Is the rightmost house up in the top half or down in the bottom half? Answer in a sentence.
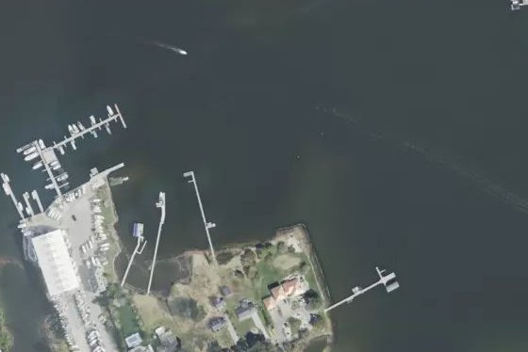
The rightmost house is in the bottom half of the image.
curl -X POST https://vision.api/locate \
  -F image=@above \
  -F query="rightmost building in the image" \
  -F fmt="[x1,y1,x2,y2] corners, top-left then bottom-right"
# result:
[263,274,302,310]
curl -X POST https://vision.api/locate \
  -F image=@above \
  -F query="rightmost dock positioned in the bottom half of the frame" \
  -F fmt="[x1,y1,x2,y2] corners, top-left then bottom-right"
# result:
[326,267,400,311]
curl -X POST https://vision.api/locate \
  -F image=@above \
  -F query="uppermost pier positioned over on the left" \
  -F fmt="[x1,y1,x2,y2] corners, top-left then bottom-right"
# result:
[40,104,127,152]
